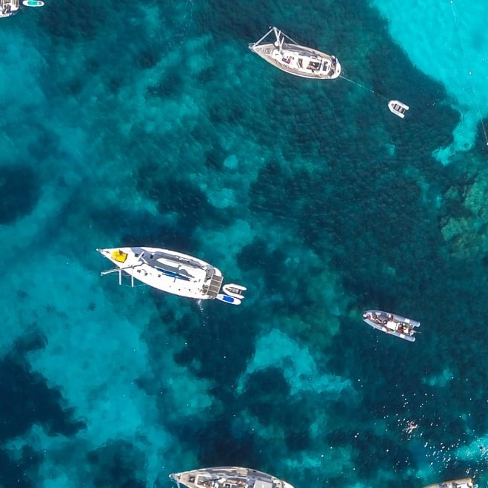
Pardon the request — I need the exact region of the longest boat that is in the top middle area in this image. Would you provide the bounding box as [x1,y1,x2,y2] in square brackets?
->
[249,27,341,80]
